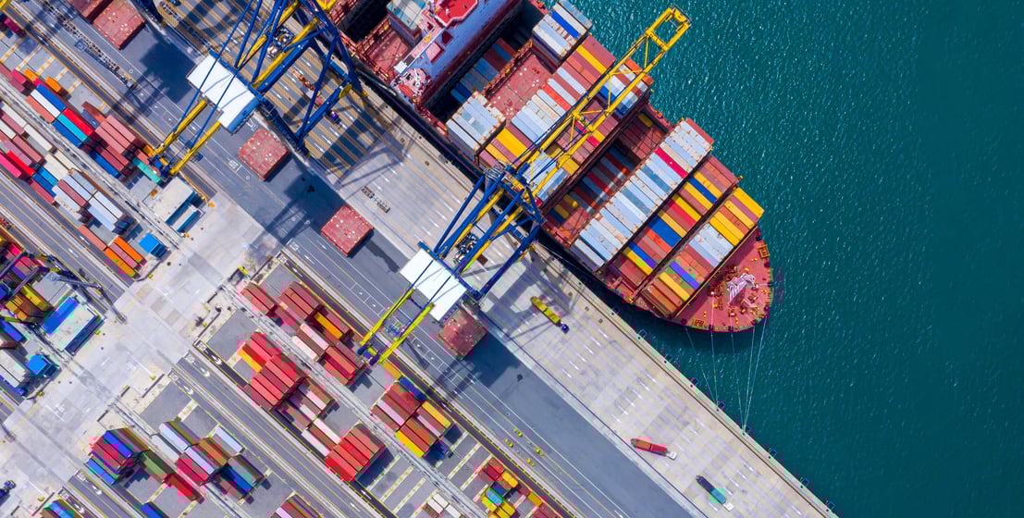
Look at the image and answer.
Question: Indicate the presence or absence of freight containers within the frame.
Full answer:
Yes, there is a freight container in the image.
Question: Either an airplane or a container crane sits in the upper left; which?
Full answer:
Looking in the upper left, you will find a container crane.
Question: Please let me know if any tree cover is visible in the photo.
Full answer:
No, no tree cover is visible.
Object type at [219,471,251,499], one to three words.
shipping container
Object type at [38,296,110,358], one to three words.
building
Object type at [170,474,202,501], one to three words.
shipping container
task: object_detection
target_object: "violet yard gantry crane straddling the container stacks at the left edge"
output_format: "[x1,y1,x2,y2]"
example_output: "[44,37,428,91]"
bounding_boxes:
[0,250,89,335]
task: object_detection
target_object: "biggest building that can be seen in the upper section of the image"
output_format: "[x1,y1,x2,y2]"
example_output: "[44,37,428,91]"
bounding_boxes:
[148,176,201,234]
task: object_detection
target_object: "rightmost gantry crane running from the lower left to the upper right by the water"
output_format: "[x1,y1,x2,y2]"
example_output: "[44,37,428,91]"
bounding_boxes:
[352,3,694,371]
